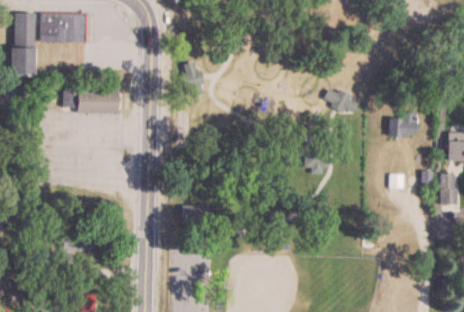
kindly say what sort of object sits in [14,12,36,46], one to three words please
building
